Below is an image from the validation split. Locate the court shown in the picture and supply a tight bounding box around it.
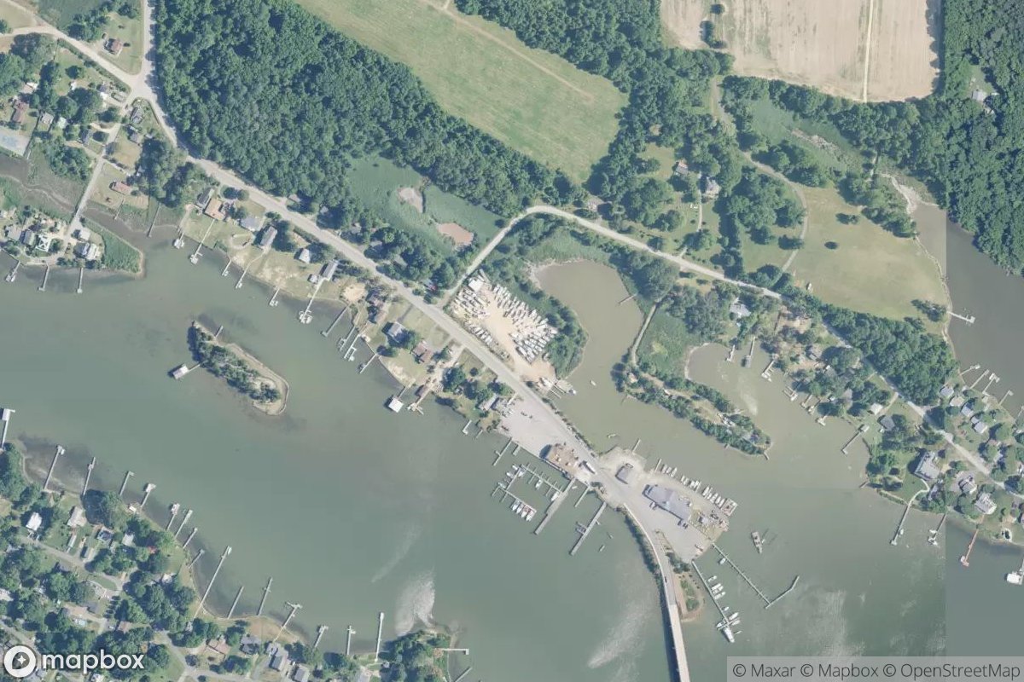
[0,130,29,156]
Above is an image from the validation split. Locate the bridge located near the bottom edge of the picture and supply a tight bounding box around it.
[667,603,689,682]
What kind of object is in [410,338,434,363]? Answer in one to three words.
house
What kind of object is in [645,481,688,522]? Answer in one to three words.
building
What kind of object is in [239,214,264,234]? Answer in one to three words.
house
